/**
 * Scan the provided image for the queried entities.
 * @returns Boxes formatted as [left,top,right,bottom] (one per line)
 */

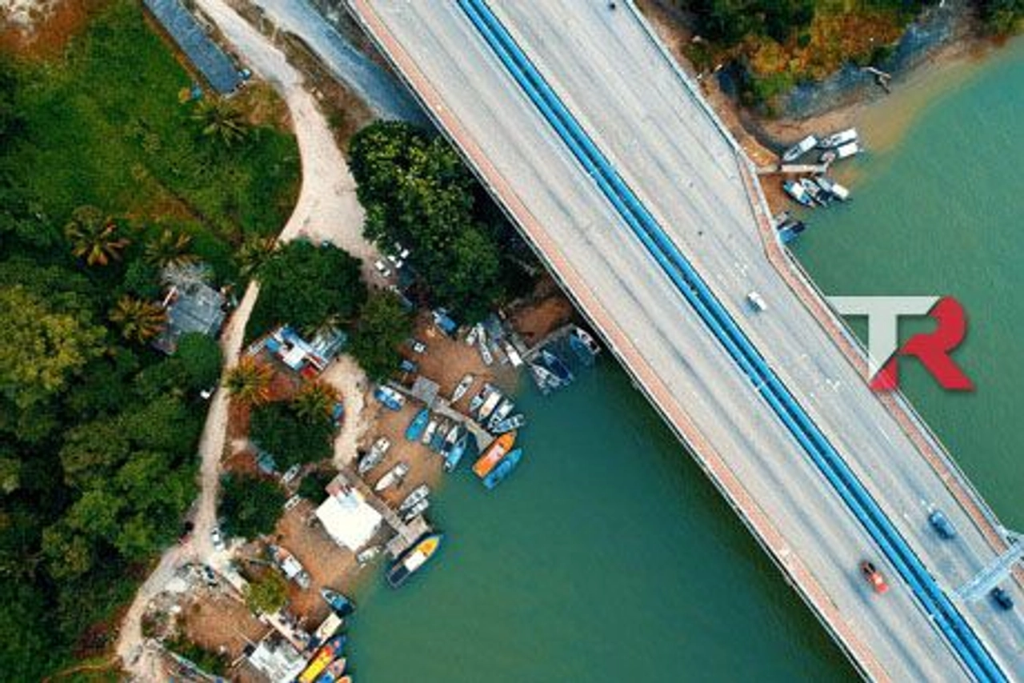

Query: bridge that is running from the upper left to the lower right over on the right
[338,0,1024,683]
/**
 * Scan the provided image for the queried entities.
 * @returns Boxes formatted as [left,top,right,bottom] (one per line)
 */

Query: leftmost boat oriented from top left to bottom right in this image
[268,543,316,595]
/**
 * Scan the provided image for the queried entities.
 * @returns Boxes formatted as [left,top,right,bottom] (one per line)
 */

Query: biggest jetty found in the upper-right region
[756,156,833,175]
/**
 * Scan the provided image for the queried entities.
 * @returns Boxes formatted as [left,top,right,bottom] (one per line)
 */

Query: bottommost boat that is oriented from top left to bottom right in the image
[321,588,360,620]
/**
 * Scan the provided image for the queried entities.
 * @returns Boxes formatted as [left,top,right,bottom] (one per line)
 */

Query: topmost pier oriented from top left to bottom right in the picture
[390,376,497,453]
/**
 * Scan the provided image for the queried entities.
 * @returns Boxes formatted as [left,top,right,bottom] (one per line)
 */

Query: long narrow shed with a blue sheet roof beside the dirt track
[145,0,247,97]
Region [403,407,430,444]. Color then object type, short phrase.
blue boat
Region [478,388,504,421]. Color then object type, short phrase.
white boat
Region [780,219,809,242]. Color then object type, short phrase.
blue boat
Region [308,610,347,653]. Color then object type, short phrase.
white boat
